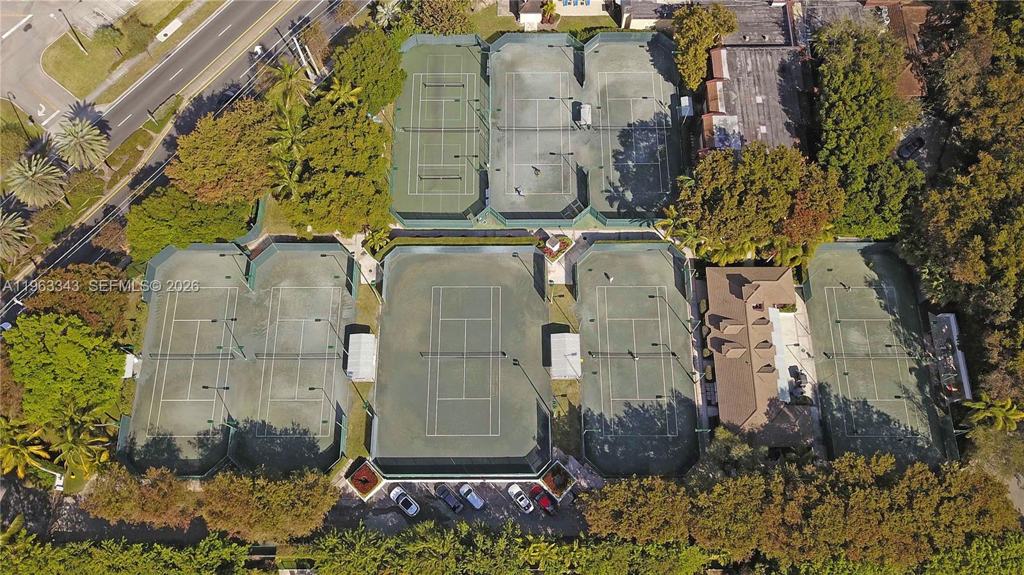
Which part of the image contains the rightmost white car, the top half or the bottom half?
bottom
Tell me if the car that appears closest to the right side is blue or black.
black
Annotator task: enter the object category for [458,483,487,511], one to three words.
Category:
car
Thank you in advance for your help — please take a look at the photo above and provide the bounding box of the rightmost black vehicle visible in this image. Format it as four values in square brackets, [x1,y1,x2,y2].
[898,137,924,159]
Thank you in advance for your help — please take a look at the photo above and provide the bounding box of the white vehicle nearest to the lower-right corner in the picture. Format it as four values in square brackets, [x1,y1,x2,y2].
[505,482,535,515]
